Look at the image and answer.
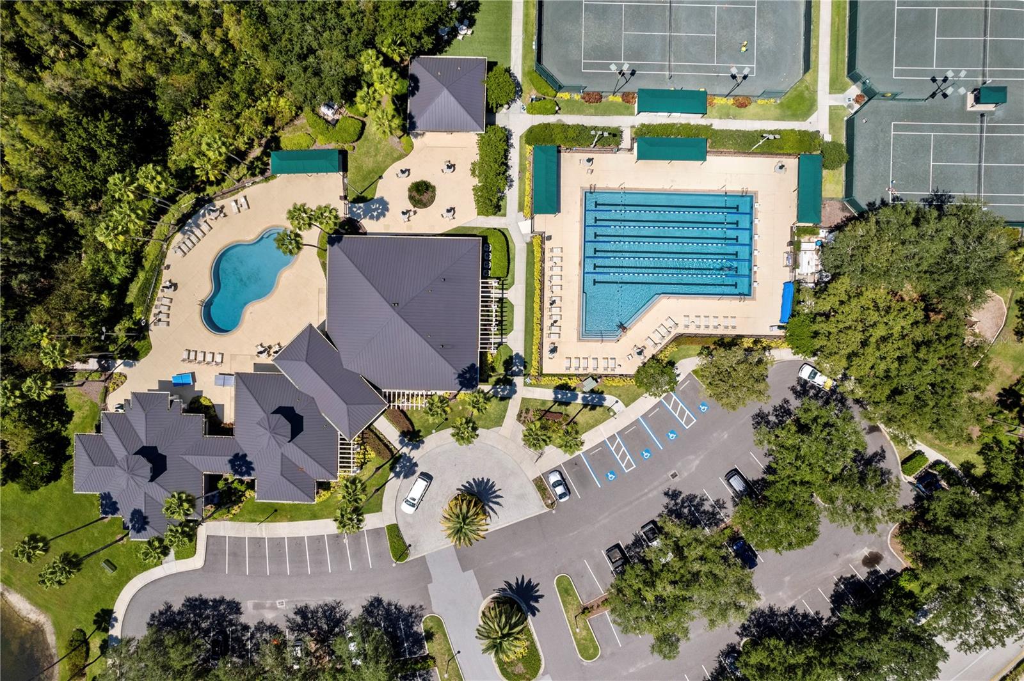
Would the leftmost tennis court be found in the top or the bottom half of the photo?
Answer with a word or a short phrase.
top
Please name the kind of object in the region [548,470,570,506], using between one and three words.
car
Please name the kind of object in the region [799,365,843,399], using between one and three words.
truck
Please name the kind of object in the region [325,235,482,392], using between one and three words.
building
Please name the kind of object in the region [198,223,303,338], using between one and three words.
swimming pool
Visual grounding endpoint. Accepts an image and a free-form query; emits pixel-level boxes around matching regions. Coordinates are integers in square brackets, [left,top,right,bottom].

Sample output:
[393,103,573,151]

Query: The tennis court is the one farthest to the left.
[536,0,805,99]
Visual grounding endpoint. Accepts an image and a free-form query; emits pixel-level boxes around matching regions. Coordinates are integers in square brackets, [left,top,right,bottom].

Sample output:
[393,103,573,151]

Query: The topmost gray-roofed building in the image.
[408,56,487,135]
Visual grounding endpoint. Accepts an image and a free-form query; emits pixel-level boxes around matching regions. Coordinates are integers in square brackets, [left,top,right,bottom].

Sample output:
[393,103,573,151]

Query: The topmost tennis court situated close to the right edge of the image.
[855,0,1024,109]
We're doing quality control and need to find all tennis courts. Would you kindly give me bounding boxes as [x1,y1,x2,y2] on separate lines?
[536,0,805,99]
[851,96,1024,226]
[855,0,1024,109]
